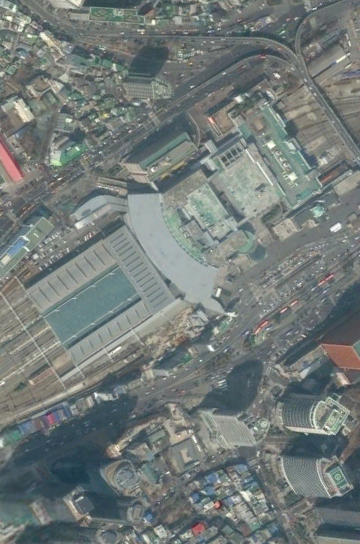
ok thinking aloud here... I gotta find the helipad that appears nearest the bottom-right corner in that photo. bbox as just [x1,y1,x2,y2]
[329,467,347,486]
